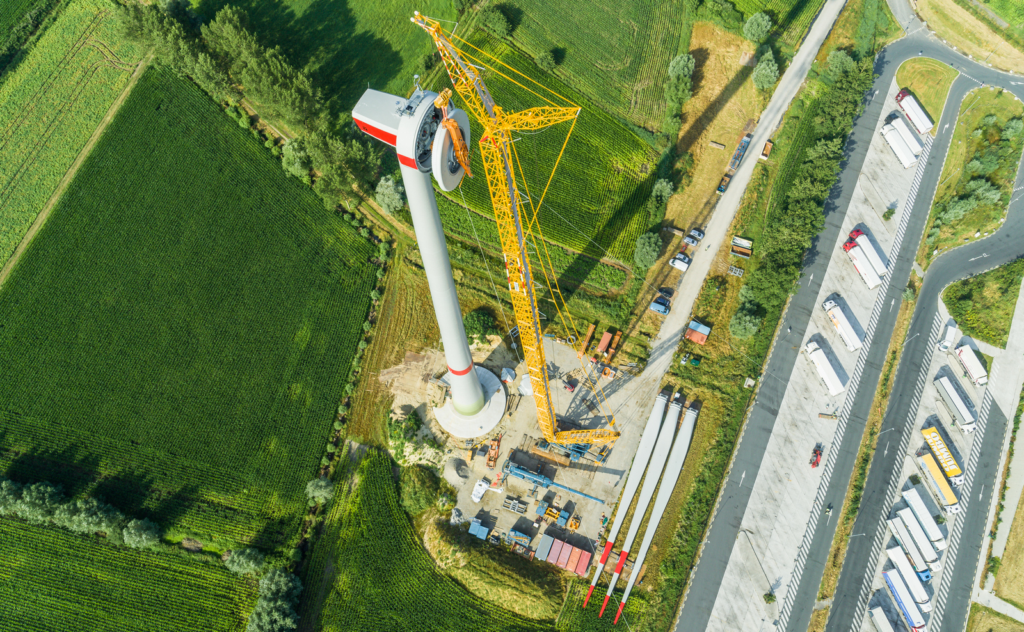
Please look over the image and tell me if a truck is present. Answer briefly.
Yes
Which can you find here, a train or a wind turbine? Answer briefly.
wind turbine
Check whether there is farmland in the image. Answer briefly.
Yes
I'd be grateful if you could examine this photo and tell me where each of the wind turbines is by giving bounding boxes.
[340,62,487,415]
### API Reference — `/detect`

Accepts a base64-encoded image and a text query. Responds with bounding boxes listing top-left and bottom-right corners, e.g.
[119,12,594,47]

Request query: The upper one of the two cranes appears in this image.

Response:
[409,4,621,472]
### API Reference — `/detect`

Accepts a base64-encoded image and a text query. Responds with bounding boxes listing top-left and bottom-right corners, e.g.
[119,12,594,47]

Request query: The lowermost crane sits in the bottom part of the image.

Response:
[505,454,607,503]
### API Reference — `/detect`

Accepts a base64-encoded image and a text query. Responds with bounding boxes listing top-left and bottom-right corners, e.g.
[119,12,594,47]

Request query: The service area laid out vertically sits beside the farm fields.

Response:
[675,0,1024,632]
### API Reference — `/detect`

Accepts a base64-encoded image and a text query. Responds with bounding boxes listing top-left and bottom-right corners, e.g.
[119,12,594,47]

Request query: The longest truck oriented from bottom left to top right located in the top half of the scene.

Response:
[727,130,755,169]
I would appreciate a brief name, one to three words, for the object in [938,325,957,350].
vehicle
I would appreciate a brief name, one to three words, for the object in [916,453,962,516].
truck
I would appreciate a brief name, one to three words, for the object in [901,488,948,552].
truck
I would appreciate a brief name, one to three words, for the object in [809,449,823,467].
work vehicle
